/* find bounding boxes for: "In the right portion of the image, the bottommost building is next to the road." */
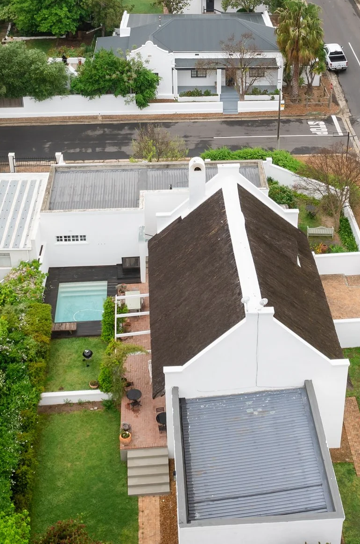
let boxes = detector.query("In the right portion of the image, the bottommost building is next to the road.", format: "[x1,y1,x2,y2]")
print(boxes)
[121,151,354,544]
